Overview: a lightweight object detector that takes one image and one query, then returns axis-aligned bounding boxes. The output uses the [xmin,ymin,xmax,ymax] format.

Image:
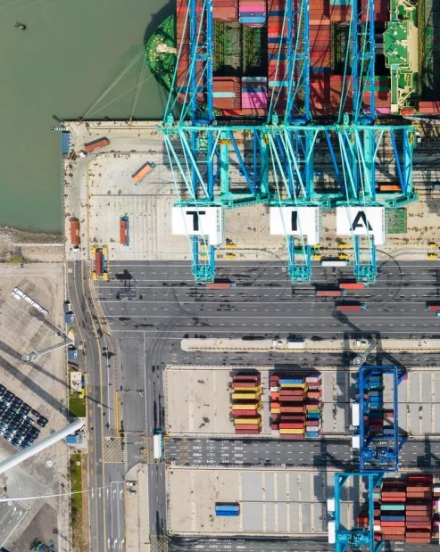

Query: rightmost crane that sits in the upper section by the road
[332,0,421,281]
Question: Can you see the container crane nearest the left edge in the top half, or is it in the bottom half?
top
